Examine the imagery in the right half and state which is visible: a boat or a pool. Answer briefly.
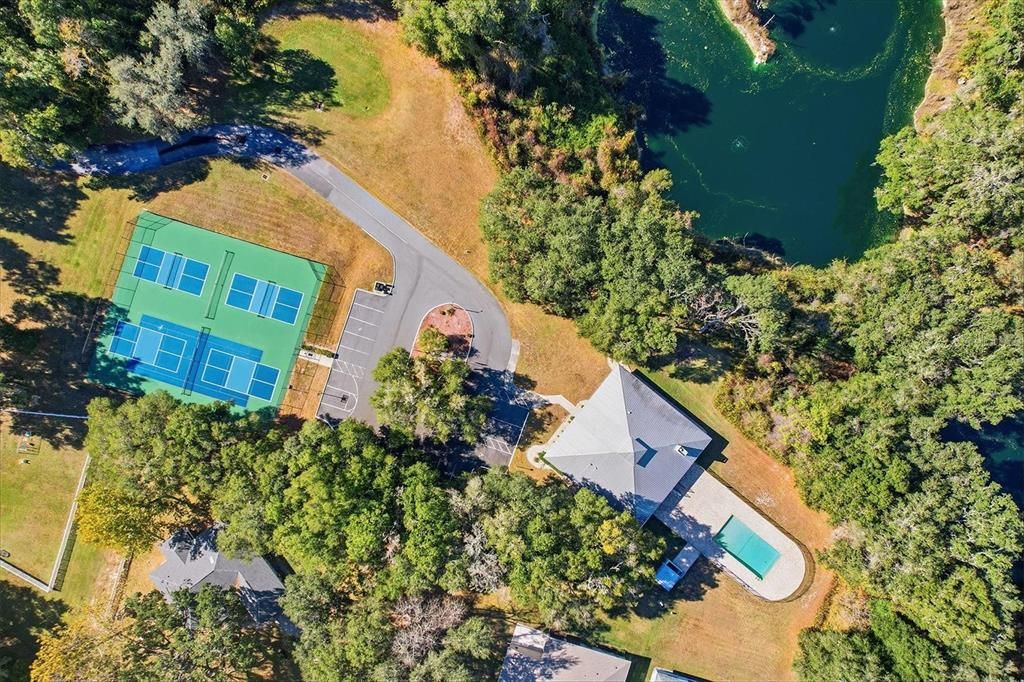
pool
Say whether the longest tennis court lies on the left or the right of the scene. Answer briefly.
left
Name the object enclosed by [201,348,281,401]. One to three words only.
sports court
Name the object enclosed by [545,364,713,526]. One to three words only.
building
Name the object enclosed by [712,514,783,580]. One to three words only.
swimming pool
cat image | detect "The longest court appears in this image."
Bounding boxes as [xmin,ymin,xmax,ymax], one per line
[127,314,263,406]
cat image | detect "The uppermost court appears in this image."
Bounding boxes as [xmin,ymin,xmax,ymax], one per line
[133,245,209,296]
